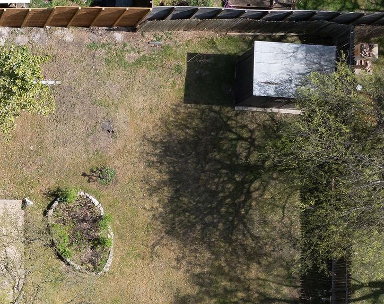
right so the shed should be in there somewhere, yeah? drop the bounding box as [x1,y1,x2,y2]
[229,41,335,114]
